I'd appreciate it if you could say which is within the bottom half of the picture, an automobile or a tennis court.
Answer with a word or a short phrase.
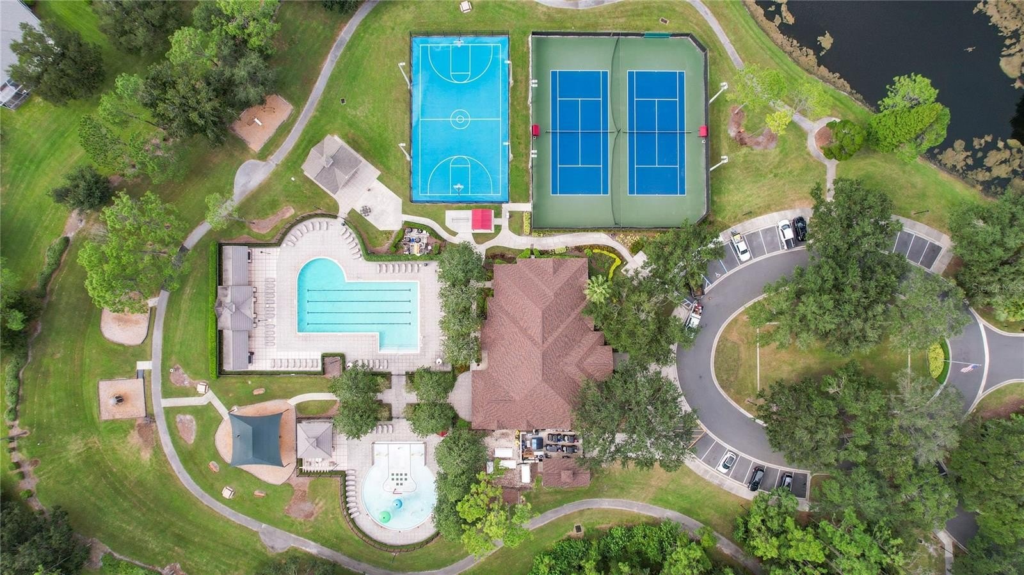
automobile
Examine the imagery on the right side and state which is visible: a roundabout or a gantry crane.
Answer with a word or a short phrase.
roundabout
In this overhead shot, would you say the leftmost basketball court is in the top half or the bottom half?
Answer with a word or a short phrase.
top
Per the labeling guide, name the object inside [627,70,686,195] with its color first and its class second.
blue tennis court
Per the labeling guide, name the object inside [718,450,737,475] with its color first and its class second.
white car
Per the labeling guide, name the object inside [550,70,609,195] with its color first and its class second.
blue tennis court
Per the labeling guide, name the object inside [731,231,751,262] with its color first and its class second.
white vehicle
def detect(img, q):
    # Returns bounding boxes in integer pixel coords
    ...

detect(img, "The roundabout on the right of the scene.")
[677,248,986,473]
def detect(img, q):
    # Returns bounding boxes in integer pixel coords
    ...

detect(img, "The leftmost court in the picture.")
[412,36,509,202]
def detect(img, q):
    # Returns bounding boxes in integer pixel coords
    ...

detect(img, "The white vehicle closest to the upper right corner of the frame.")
[779,219,797,250]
